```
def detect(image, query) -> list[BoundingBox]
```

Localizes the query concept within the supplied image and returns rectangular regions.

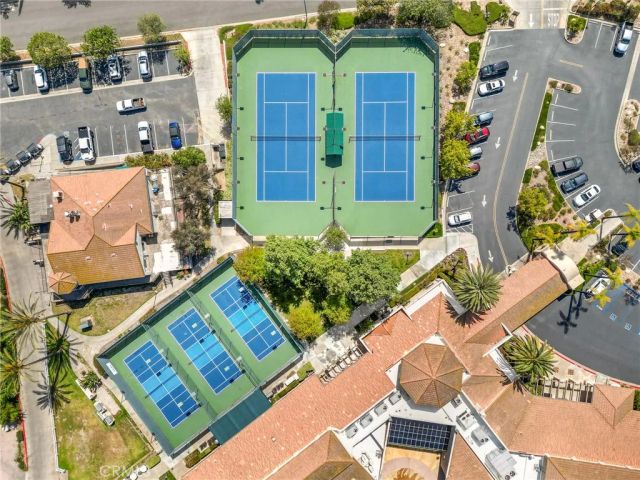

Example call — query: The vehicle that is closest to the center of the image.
[446,211,473,224]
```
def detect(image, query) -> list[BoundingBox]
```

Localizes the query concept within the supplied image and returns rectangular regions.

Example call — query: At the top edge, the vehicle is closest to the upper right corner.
[612,20,639,56]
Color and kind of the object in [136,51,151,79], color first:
white car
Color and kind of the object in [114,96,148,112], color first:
white vehicle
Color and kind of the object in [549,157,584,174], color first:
gray vehicle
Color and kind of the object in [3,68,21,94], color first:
gray car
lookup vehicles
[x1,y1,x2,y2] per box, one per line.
[54,134,74,162]
[2,159,22,171]
[169,121,182,148]
[114,96,148,112]
[559,172,590,192]
[581,206,608,226]
[572,184,603,206]
[0,168,11,178]
[77,126,96,162]
[138,121,154,153]
[476,78,507,96]
[582,272,614,298]
[3,68,21,94]
[106,53,123,83]
[457,160,483,178]
[464,126,493,144]
[32,66,51,94]
[26,143,44,156]
[464,144,485,160]
[549,157,584,174]
[77,56,94,92]
[446,211,473,224]
[608,238,633,258]
[92,401,109,418]
[477,59,512,80]
[136,51,151,79]
[101,412,118,429]
[612,20,639,56]
[14,150,33,163]
[472,109,499,128]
